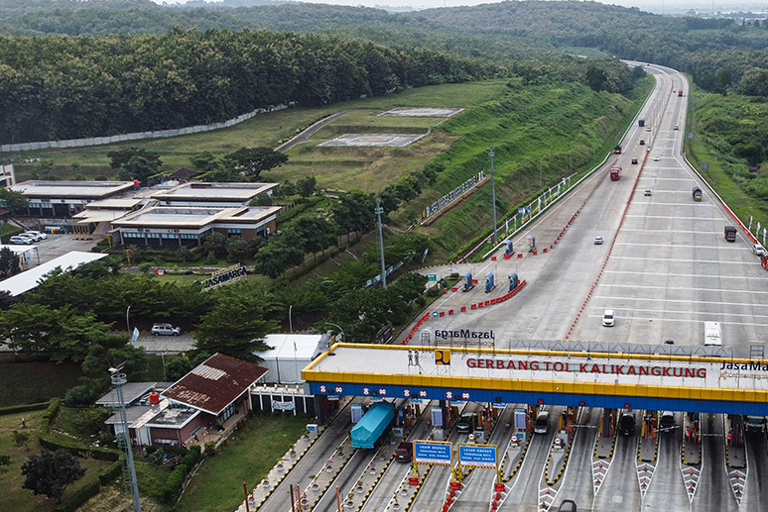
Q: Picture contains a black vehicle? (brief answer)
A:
Yes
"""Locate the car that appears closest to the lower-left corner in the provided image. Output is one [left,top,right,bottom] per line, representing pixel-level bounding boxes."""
[149,323,180,337]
